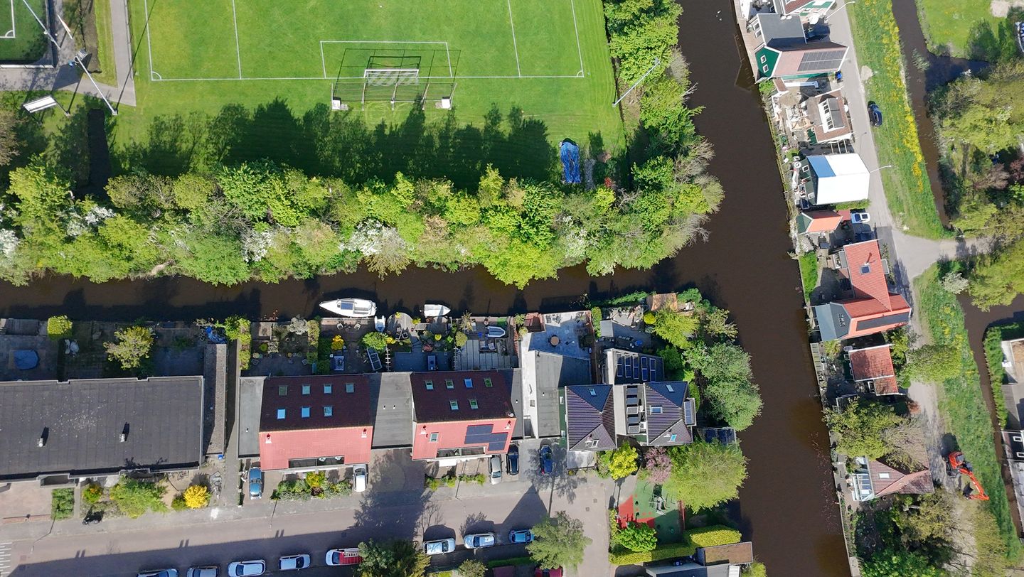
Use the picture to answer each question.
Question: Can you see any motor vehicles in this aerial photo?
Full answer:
Yes, a motor vehicle is visible in the scene.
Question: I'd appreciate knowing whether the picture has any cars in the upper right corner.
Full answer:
Yes, looking in the upper right corner, one can make out a car.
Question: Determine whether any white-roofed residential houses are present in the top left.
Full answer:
No, I see no white-roofed residential house in the top left.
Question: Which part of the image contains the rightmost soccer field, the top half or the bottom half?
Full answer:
It is in the top half that the rightmost soccer field appears.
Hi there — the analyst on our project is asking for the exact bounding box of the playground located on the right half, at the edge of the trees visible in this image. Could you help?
[618,478,685,543]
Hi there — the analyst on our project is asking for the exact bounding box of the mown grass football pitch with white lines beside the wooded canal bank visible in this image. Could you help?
[136,0,620,151]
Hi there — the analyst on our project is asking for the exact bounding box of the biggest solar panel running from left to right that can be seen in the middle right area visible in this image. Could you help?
[857,313,912,333]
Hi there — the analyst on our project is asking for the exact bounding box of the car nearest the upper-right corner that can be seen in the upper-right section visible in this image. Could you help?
[866,103,883,126]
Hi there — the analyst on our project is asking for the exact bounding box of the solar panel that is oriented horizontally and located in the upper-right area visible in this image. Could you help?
[799,50,847,72]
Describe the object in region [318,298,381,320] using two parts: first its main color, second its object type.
white boat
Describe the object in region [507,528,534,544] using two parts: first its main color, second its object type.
blue car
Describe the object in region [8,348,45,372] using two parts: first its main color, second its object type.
blue swimming pool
